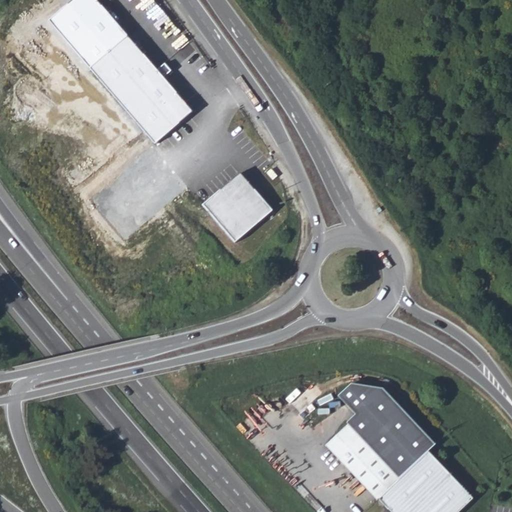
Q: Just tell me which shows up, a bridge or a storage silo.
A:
bridge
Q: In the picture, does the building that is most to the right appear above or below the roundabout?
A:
below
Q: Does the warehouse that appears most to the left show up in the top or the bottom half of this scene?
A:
top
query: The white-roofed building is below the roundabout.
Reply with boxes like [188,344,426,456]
[326,384,474,512]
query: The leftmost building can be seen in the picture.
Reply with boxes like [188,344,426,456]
[48,0,192,143]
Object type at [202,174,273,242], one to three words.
building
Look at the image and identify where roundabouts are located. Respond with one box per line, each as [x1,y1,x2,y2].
[278,187,414,331]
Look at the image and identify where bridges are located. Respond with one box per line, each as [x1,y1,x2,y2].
[14,335,186,402]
